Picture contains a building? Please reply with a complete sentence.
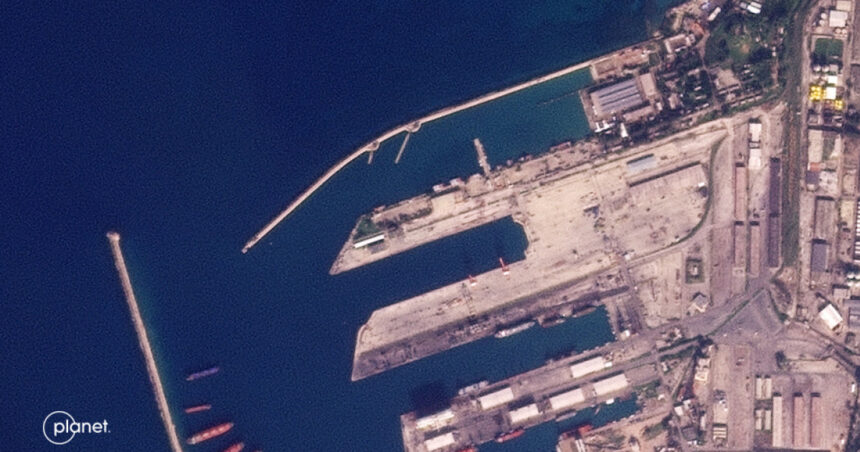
Yes, there is a building in the image.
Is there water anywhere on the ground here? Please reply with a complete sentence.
Yes, water can be seen from above here.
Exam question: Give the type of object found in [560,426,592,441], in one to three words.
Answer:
ship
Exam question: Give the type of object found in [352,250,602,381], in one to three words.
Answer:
pier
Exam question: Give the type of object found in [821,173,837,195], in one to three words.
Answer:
building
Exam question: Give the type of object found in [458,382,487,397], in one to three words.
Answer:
ship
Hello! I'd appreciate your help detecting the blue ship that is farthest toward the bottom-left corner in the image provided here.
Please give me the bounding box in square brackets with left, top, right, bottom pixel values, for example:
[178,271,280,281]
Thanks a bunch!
[186,368,219,381]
